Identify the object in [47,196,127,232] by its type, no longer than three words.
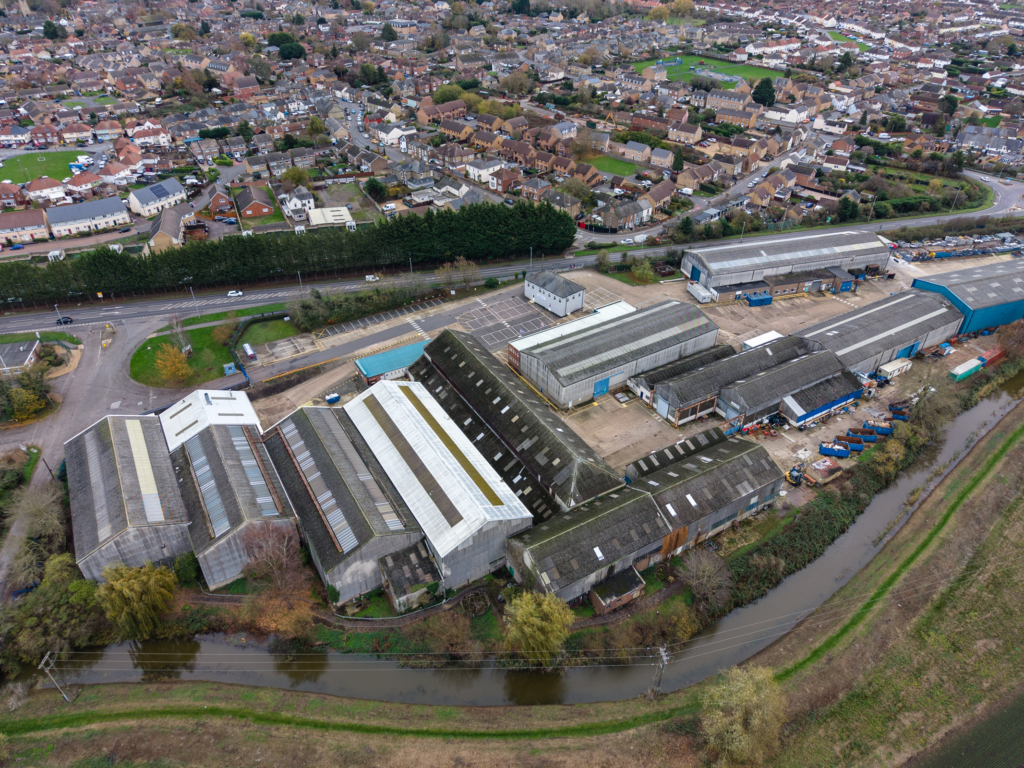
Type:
house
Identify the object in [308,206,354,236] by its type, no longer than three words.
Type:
shed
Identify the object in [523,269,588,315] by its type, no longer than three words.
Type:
building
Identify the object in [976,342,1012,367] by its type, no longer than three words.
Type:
shipping container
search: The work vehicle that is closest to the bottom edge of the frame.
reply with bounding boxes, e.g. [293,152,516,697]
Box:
[787,471,809,490]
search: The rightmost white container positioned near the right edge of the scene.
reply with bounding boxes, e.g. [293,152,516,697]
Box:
[944,358,982,384]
